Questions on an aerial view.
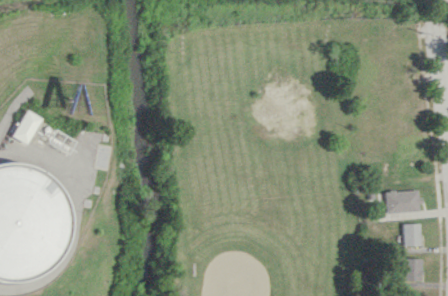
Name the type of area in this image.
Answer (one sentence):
This looks like a sports ground.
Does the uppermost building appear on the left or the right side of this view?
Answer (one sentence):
It is on the left.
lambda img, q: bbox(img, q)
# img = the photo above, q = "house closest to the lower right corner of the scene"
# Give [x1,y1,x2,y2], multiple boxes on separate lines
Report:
[407,258,424,282]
